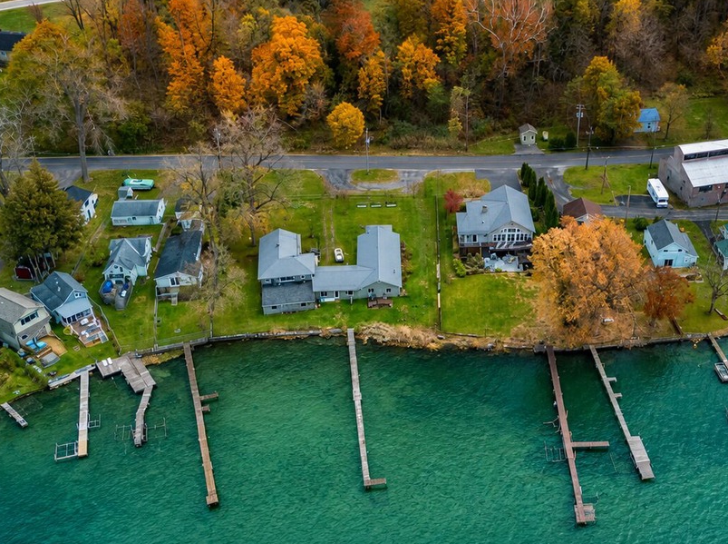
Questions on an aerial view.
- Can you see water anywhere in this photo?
Yes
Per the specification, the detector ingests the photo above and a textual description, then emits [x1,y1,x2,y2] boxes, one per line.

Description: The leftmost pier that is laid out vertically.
[76,370,90,461]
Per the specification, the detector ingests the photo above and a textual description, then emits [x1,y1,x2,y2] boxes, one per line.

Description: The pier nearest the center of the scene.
[346,328,387,491]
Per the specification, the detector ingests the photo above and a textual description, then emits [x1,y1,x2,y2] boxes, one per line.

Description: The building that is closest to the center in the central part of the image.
[259,225,404,315]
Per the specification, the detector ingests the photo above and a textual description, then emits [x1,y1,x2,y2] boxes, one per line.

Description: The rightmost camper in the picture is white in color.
[647,173,669,204]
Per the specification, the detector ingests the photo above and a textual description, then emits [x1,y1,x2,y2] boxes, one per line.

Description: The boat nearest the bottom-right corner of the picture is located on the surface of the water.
[713,362,728,383]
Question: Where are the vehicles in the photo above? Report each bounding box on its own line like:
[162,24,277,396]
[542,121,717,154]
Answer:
[335,246,345,260]
[647,173,669,204]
